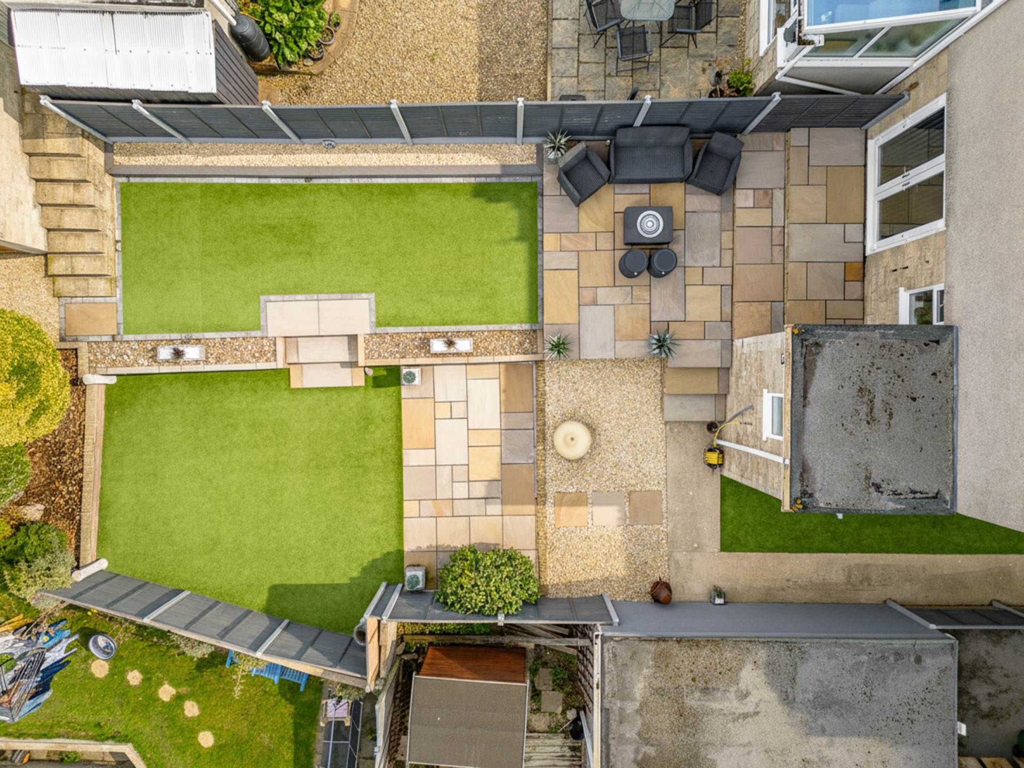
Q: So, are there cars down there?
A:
No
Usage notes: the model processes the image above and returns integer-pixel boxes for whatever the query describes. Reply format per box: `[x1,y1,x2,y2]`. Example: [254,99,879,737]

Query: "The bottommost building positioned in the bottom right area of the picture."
[589,599,958,768]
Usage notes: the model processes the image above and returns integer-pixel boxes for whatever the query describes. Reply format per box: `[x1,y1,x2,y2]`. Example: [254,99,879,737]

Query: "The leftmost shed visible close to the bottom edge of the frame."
[407,646,528,768]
